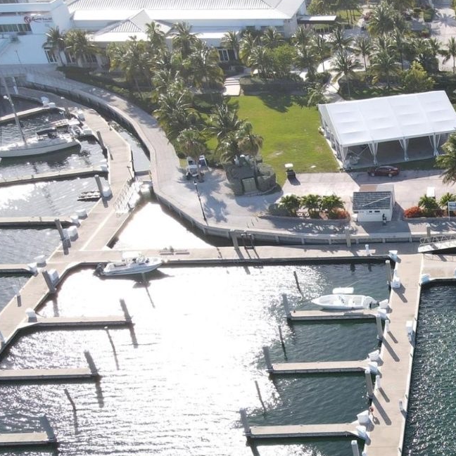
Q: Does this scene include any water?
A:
Yes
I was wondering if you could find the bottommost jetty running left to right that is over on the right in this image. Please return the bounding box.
[246,412,367,449]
